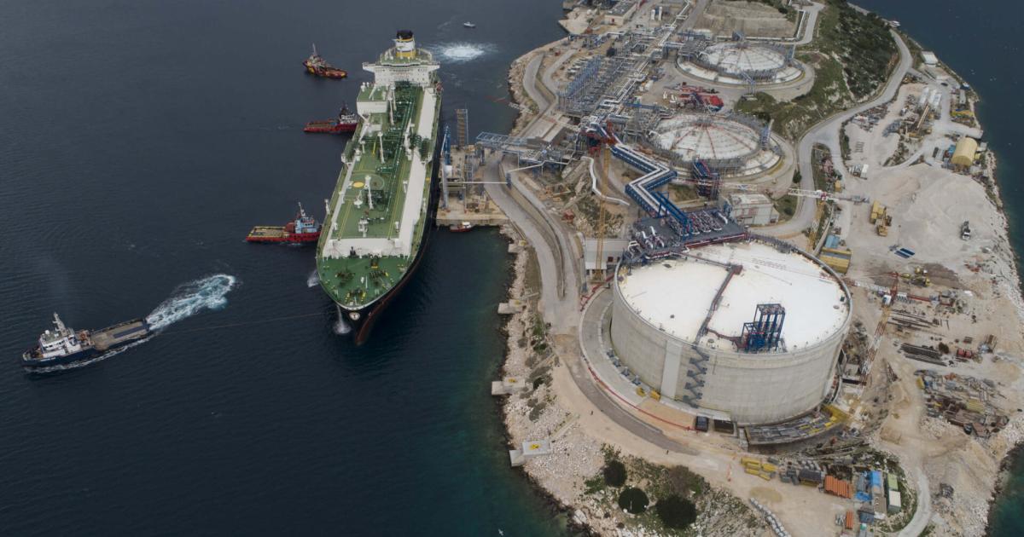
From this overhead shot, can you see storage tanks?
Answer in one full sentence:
Yes, a storage tank appears in the view.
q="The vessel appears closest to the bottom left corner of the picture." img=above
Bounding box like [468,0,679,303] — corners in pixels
[17,293,151,363]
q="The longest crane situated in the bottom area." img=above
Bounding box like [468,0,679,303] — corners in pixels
[735,253,968,392]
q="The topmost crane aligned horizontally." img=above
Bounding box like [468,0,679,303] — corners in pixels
[670,171,868,255]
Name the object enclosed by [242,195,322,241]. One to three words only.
boat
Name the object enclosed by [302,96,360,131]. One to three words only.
boat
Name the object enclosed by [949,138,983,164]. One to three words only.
building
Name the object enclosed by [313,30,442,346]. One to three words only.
ship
